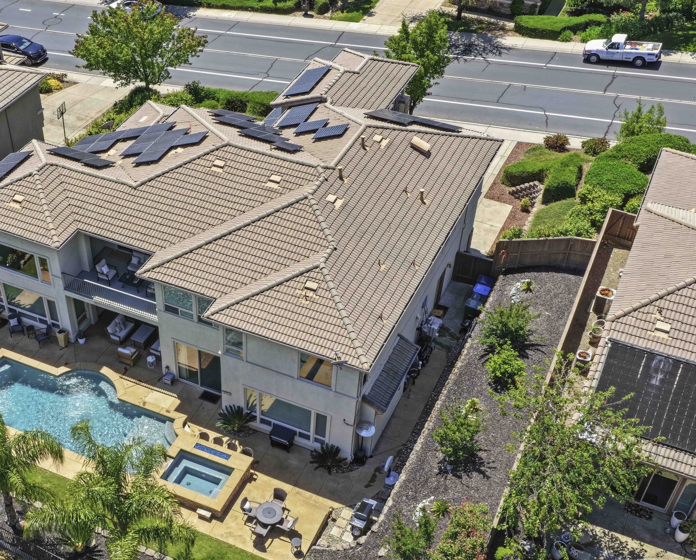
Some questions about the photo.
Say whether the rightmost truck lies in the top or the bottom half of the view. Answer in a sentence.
Seen from above, the rightmost truck lies in the top half of the view.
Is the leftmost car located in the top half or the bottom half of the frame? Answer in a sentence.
The leftmost car is in the top half of the image.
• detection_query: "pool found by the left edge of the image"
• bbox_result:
[0,348,188,483]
